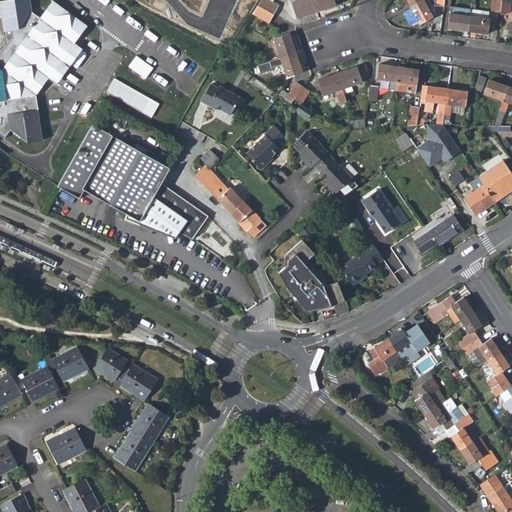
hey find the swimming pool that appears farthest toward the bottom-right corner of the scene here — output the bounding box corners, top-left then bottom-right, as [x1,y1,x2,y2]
[412,352,438,378]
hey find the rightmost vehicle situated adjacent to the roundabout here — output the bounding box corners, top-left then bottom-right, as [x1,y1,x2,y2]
[309,348,325,392]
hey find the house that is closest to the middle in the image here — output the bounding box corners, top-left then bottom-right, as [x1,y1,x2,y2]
[240,212,266,238]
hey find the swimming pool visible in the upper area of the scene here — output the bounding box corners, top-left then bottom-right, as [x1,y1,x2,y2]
[402,8,420,28]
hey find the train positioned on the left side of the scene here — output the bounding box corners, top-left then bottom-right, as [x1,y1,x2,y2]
[0,236,58,267]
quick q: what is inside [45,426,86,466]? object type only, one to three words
house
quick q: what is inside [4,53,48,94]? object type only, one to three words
shed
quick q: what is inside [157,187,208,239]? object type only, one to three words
building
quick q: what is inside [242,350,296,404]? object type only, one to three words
roundabout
